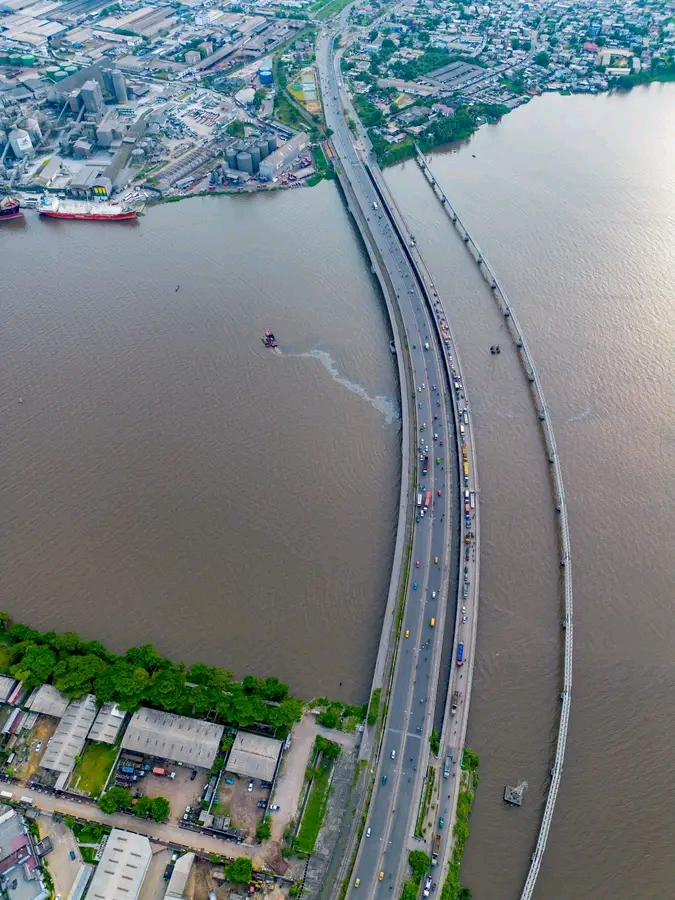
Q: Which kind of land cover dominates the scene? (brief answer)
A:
water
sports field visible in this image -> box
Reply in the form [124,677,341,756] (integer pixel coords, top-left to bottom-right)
[287,71,322,115]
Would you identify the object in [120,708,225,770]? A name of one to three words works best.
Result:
building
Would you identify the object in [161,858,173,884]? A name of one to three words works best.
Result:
vehicle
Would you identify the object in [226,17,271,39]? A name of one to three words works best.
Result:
building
